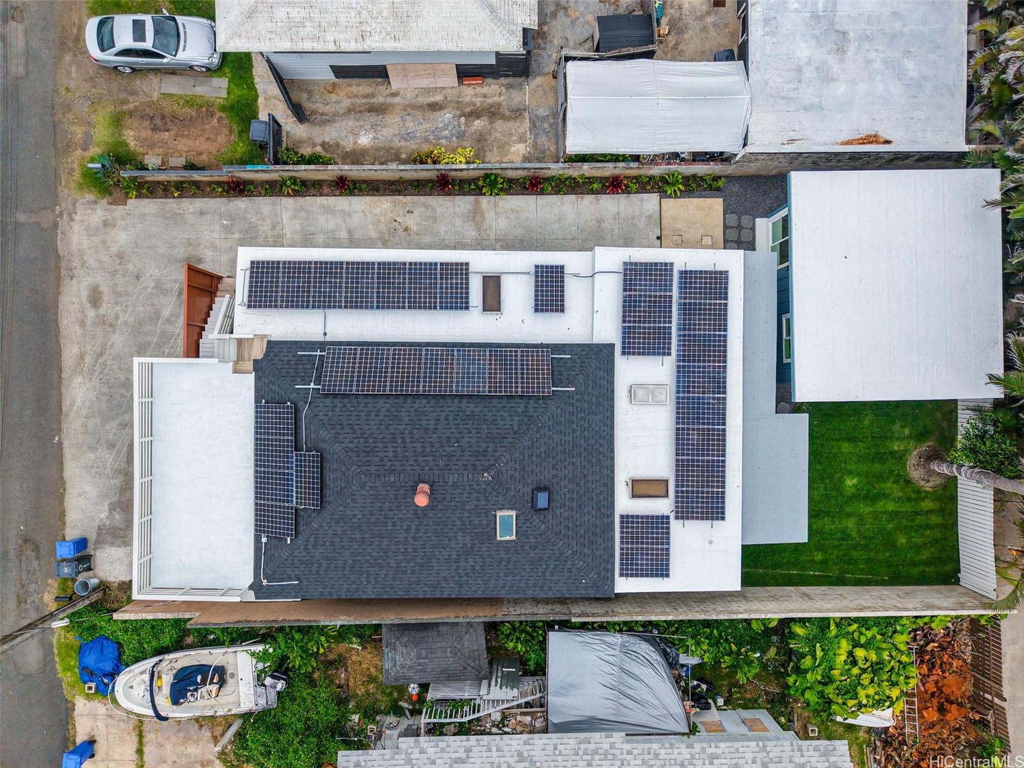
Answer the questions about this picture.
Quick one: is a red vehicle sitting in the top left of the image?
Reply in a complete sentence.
No, there is no red vehicle in the top left of the image.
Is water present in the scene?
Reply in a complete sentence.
No, there's no water in this view.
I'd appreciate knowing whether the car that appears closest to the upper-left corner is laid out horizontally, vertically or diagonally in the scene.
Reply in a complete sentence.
The car that appears closest to the upper-left corner has been laid out horizontally relative to the frame.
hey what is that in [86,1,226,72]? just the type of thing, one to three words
car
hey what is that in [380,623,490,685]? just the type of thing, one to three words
shed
